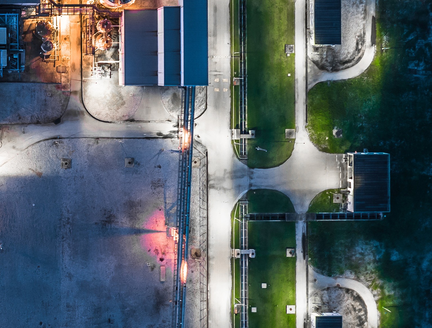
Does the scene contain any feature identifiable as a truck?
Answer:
No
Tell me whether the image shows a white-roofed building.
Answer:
No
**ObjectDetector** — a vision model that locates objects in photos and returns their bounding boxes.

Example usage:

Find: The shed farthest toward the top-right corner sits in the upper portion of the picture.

[309,0,341,45]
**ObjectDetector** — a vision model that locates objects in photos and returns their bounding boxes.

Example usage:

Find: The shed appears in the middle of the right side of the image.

[346,153,391,212]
